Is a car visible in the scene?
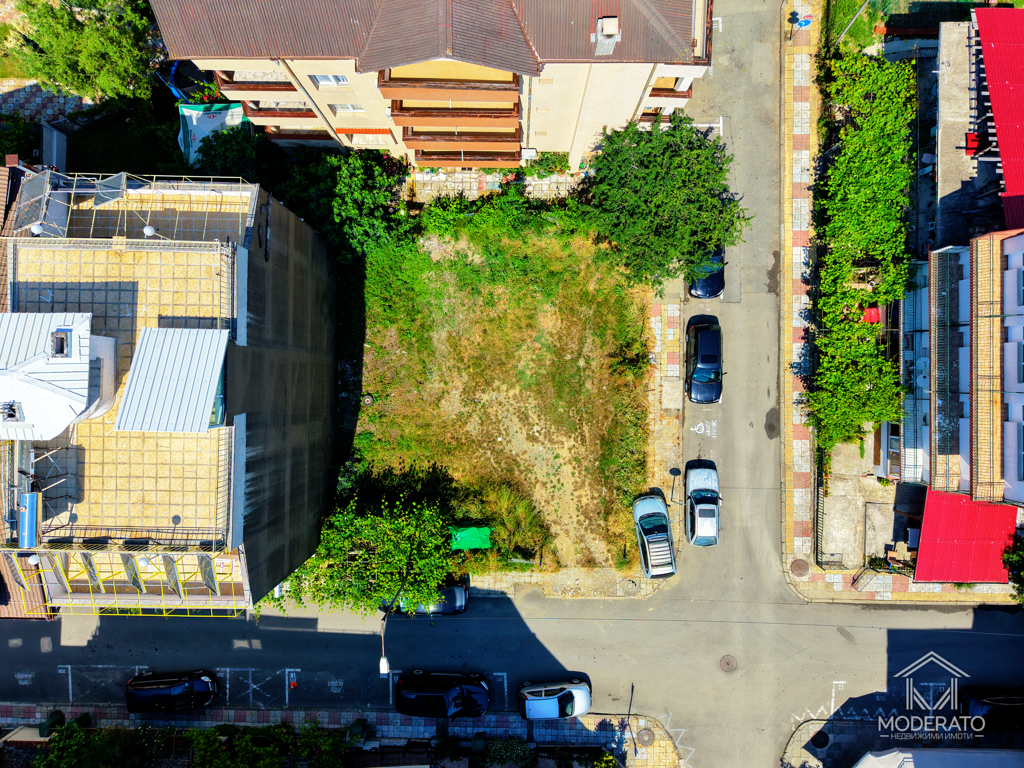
Yes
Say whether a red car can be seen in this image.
No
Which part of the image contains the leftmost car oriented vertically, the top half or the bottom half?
bottom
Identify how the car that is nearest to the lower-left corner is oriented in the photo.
from left to right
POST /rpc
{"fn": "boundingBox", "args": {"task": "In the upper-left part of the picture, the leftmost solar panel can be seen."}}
[13,170,51,235]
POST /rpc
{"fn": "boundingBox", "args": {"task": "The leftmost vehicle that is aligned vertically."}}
[632,494,674,577]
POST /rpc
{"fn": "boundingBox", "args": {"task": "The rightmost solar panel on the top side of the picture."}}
[93,172,127,212]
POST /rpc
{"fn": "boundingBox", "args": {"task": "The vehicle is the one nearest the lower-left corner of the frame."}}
[127,667,215,712]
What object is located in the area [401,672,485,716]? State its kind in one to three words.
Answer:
car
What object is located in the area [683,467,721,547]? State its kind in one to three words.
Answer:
car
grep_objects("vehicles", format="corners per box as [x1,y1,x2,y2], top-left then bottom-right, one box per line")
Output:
[685,241,725,304]
[632,494,674,577]
[401,672,485,716]
[384,580,463,619]
[520,679,589,720]
[685,324,724,405]
[683,467,721,547]
[127,667,215,712]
